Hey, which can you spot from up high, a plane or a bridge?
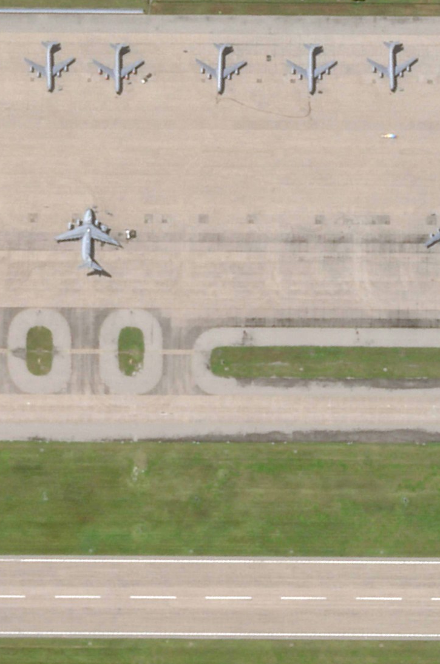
plane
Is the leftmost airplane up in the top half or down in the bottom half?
top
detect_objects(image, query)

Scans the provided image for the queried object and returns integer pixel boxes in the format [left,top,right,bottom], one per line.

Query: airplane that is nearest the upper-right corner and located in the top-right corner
[367,40,417,92]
